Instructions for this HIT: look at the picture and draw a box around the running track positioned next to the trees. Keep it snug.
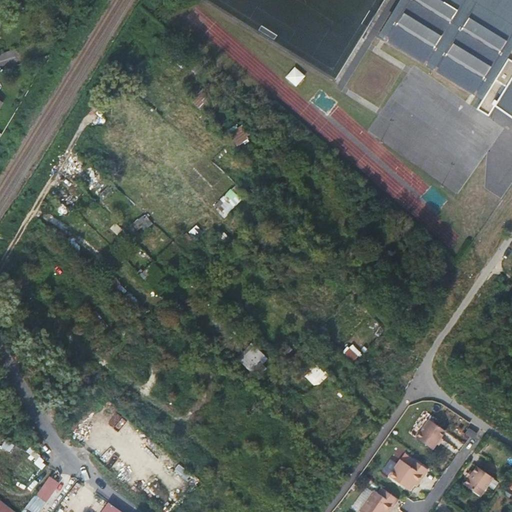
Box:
[186,6,459,245]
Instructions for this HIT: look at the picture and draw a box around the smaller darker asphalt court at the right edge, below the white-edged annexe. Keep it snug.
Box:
[484,108,512,199]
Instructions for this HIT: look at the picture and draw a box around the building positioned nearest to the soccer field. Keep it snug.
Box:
[378,0,512,100]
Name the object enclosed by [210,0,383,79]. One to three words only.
soccer field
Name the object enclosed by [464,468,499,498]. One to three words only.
house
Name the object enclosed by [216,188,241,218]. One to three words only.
shed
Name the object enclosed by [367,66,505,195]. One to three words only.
sports court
